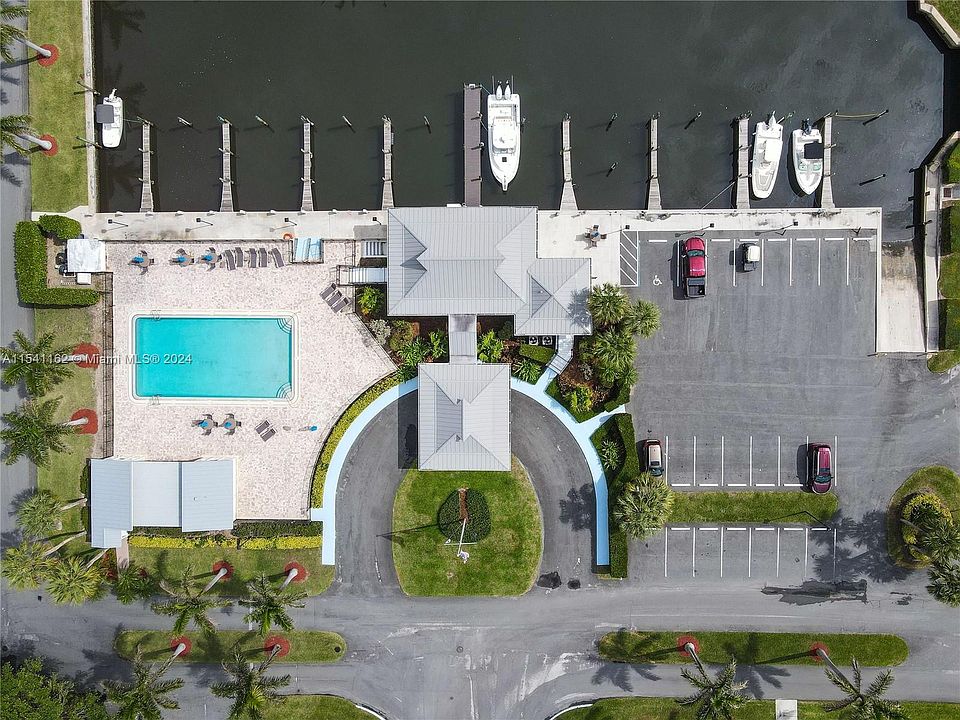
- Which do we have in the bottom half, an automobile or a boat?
automobile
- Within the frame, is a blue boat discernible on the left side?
No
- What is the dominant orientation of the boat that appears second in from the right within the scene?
from top to bottom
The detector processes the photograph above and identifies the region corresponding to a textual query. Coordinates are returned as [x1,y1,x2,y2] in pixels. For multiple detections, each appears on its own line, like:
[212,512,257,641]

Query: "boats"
[91,88,125,150]
[755,107,790,197]
[487,79,520,193]
[793,115,832,194]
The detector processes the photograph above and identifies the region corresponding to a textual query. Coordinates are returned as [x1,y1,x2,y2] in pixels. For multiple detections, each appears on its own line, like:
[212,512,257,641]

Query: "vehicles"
[682,237,708,299]
[741,244,761,270]
[808,444,835,493]
[644,437,668,481]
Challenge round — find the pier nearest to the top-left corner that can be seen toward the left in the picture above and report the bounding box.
[133,118,158,210]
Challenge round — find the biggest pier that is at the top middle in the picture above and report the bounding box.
[460,81,485,207]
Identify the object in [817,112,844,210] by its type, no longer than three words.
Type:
pier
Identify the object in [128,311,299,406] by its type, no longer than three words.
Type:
swimming pool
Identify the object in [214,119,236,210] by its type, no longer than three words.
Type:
pier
